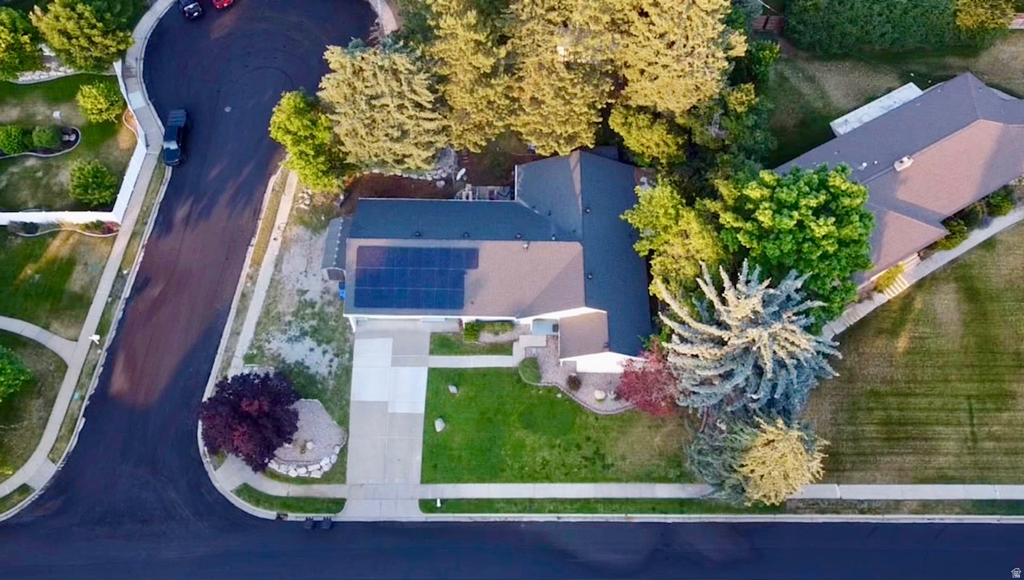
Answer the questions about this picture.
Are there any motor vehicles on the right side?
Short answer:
No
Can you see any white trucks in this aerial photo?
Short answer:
No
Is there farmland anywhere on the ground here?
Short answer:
No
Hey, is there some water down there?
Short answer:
No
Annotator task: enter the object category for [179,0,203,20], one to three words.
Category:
car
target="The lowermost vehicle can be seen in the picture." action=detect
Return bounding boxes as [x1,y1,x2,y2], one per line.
[161,112,193,165]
